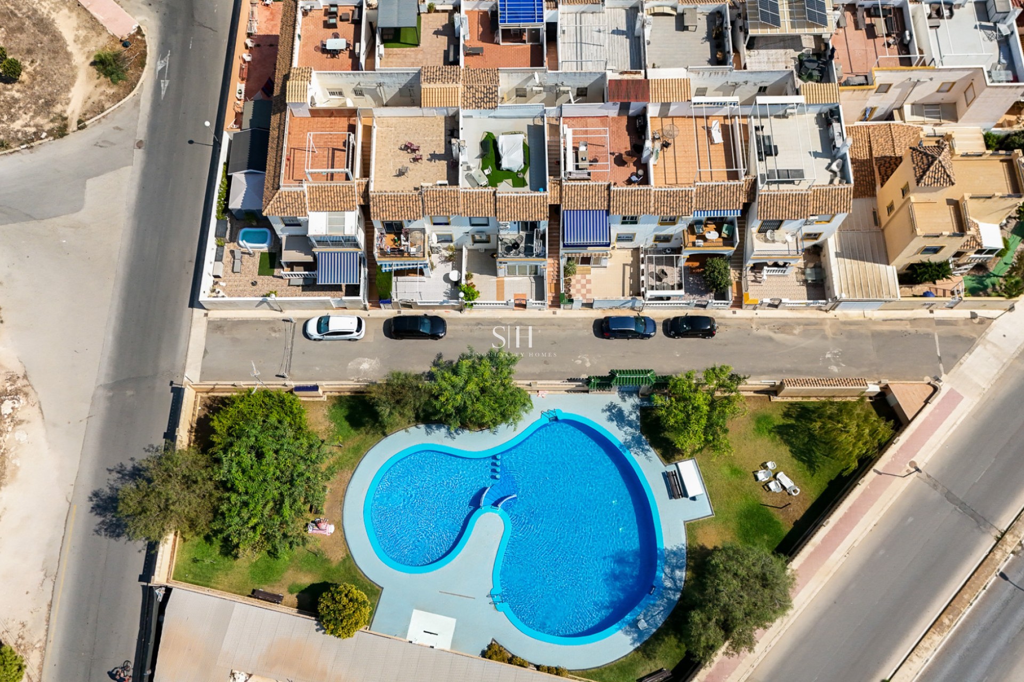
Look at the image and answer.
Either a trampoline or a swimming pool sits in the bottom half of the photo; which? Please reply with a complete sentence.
You can see a swimming pool in the bottom half of the photo.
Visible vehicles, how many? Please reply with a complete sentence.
The number of vehicles here is 4.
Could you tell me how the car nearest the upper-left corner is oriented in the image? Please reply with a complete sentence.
The car nearest the upper-left corner is laid out from side to side.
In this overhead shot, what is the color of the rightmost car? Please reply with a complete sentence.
From above, the rightmost car appears black.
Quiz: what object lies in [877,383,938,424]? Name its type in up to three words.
building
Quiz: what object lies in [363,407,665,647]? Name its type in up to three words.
swimming pool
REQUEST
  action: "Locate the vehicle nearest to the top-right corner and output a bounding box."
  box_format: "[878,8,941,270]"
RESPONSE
[666,314,718,341]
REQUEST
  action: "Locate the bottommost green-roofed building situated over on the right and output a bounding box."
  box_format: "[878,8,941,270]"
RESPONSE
[586,367,690,405]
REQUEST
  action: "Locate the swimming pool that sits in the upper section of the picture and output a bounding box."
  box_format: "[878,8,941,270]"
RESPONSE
[237,229,274,251]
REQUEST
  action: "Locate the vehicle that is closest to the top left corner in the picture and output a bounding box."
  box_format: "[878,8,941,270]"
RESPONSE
[308,314,366,342]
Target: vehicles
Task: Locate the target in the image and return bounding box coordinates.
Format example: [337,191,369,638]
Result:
[601,314,657,342]
[308,314,366,342]
[666,314,718,341]
[390,313,448,341]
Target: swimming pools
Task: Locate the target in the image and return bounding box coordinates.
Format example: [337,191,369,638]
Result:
[237,229,274,251]
[363,407,665,647]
